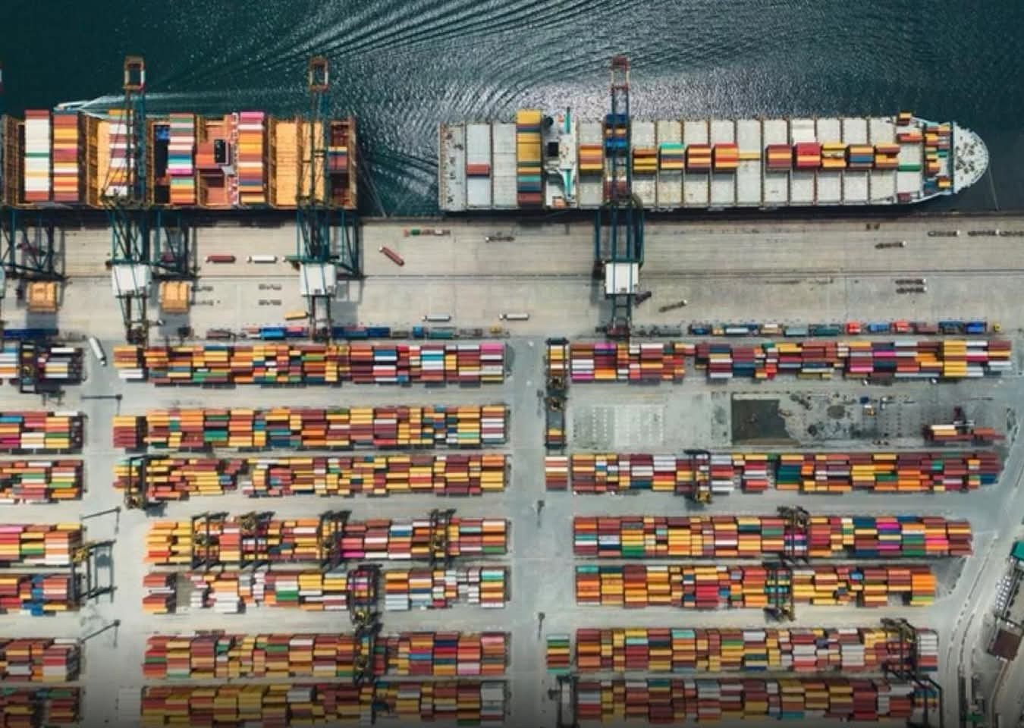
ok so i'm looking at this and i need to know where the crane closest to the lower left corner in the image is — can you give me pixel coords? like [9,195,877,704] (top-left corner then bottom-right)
[69,534,115,601]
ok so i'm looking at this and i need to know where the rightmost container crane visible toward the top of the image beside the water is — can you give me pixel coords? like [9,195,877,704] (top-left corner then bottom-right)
[578,55,642,339]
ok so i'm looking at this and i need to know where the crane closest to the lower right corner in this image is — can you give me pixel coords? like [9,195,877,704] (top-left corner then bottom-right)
[896,664,944,728]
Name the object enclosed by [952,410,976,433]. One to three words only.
work vehicle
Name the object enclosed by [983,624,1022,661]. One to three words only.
building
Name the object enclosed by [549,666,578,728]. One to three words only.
crane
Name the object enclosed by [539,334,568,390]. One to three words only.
crane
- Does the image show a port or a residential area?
port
